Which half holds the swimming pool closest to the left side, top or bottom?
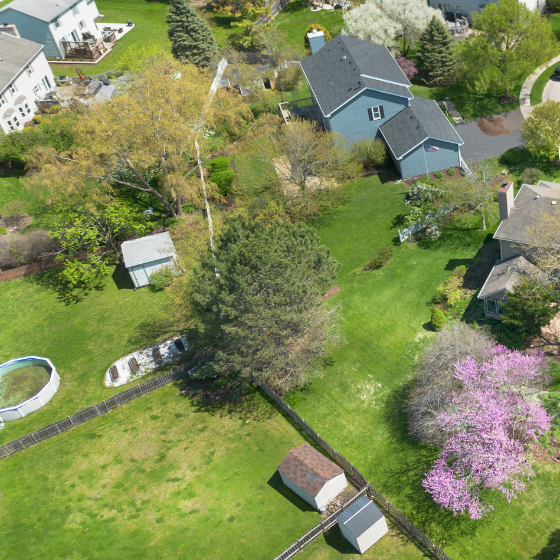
bottom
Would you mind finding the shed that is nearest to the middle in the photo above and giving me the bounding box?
[116,232,175,289]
